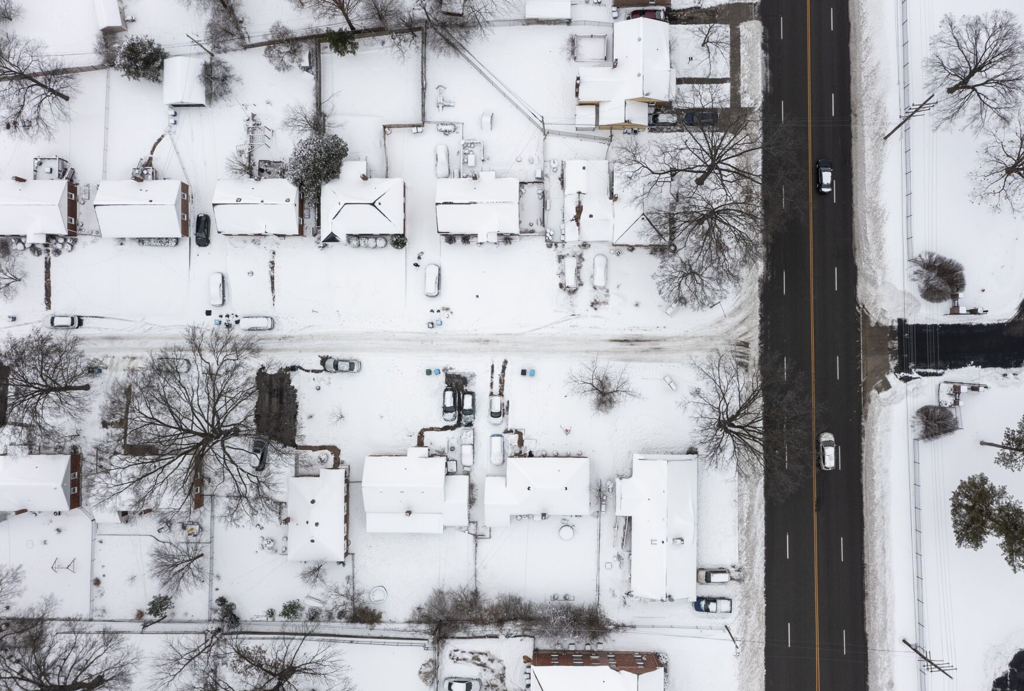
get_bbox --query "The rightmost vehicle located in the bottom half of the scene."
[817,431,837,471]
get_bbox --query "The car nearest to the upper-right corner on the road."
[815,159,833,194]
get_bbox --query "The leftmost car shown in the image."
[44,314,83,330]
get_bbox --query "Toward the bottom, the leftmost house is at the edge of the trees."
[0,442,81,513]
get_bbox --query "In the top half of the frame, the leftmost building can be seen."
[0,176,78,245]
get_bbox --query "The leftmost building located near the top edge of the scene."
[92,0,134,36]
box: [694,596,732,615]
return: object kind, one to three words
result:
vehicle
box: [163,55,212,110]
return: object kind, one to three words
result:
building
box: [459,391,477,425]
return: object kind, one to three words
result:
car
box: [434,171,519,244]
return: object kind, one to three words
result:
house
